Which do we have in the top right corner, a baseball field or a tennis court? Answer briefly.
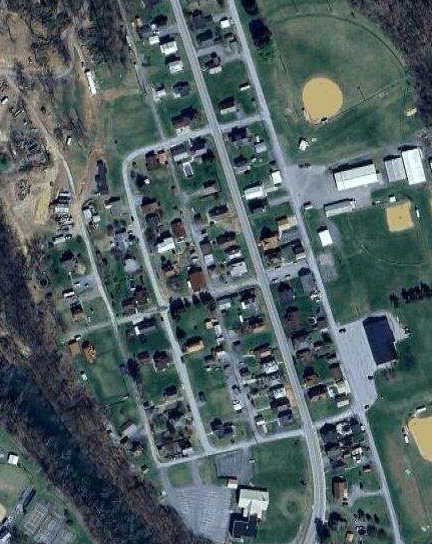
baseball field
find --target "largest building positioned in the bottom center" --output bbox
[234,488,269,536]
